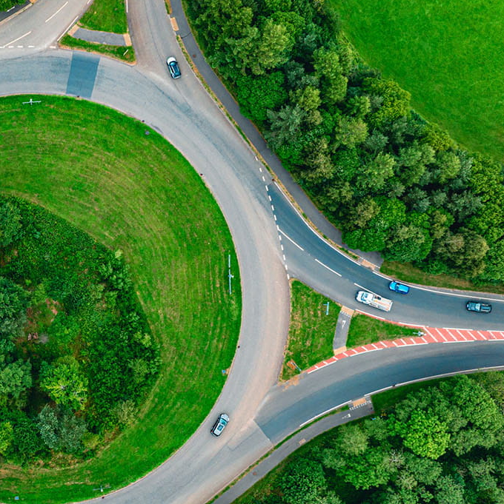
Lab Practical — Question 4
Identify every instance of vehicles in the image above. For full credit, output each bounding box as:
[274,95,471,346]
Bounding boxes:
[465,301,492,313]
[354,290,393,312]
[211,412,229,438]
[387,281,410,295]
[166,57,181,80]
